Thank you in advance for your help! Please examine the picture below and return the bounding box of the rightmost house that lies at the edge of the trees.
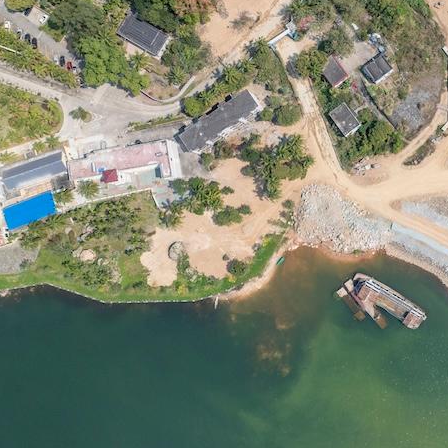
[360,55,393,84]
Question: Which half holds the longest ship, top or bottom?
bottom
